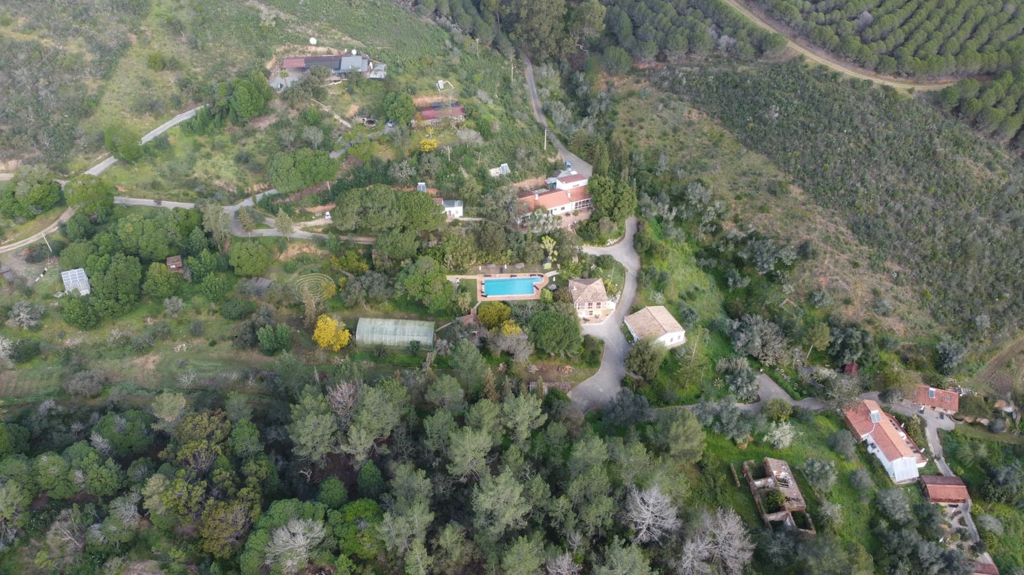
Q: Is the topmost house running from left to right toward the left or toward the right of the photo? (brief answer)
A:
left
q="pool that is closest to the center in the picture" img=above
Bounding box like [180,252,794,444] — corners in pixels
[477,273,549,302]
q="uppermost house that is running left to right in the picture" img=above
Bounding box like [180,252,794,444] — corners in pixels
[280,54,371,78]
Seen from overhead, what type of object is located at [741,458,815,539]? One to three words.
house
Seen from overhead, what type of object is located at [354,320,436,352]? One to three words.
greenhouse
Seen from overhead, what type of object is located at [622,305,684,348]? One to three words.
house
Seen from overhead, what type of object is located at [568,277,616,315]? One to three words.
building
